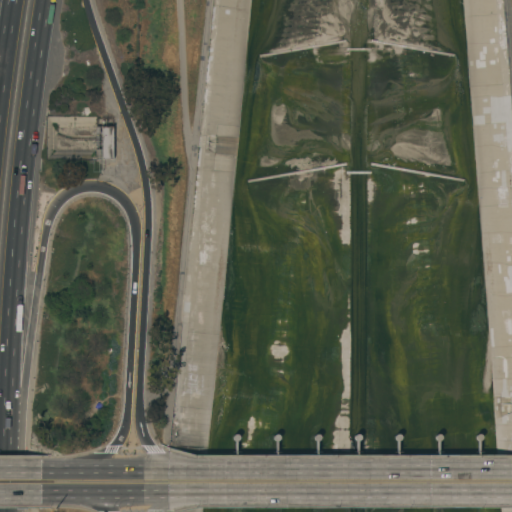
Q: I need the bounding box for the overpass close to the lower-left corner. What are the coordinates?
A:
[0,456,54,508]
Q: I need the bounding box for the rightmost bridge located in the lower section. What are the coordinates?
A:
[162,434,512,508]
